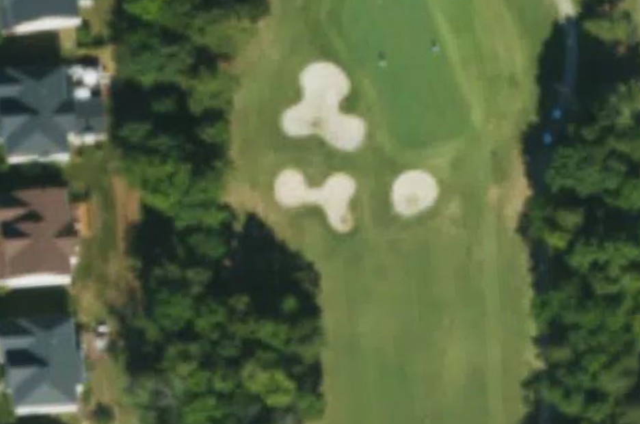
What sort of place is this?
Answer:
golf course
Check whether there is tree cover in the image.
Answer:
Yes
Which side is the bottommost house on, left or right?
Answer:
left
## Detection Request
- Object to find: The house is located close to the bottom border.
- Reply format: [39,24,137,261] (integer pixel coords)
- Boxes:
[0,318,89,413]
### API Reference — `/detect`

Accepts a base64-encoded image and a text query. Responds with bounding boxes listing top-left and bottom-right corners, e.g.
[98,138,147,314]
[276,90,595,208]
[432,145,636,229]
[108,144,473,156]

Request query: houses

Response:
[0,318,89,413]
[0,66,107,164]
[0,188,91,283]
[0,0,97,37]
